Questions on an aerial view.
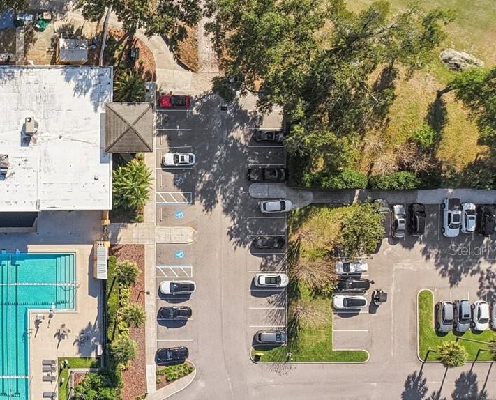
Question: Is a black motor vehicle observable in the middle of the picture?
Yes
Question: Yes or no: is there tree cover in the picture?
Yes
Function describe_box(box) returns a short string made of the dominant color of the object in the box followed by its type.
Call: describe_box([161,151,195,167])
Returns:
white car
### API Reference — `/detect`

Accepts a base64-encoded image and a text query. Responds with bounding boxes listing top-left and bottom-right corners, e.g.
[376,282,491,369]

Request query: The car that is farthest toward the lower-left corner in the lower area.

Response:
[155,348,189,363]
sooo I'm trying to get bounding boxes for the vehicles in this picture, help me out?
[157,93,190,109]
[475,204,495,235]
[245,166,287,183]
[252,330,286,347]
[388,205,409,238]
[330,294,366,311]
[407,203,426,235]
[157,306,191,319]
[367,291,389,303]
[335,277,372,293]
[256,198,292,215]
[470,300,491,331]
[435,300,455,332]
[440,197,462,238]
[488,301,496,330]
[252,274,287,289]
[159,280,195,296]
[161,151,195,167]
[155,348,189,363]
[251,235,285,251]
[459,203,476,233]
[451,300,472,332]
